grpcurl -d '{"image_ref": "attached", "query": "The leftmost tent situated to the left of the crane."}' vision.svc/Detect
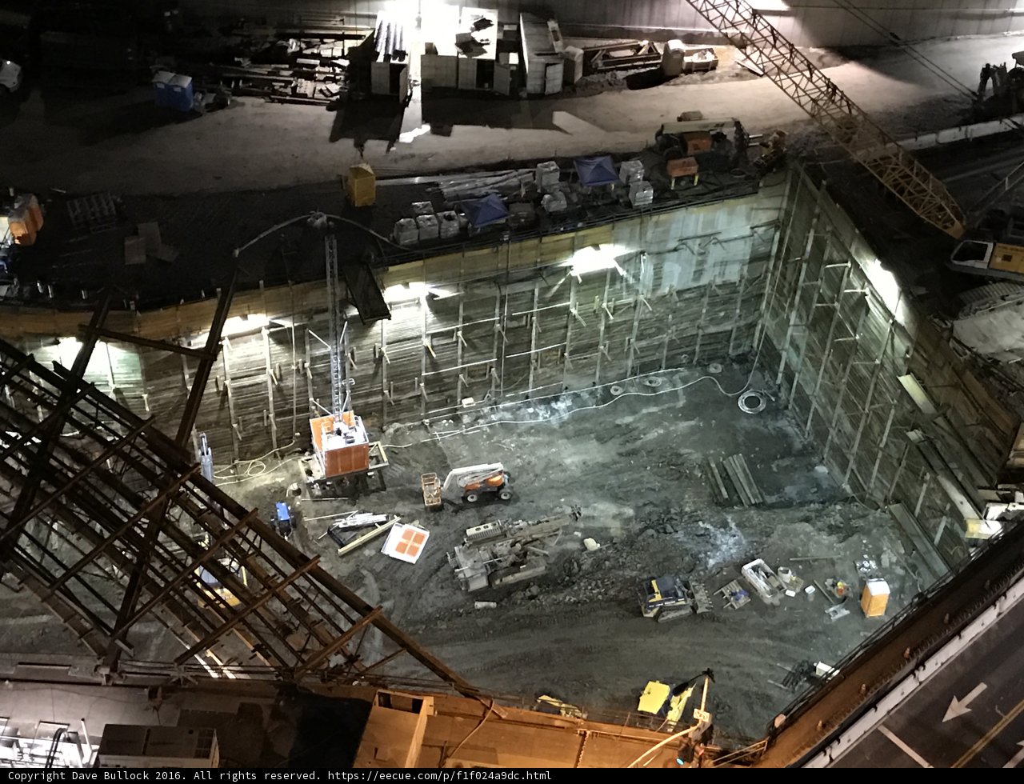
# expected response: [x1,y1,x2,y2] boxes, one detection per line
[462,198,510,254]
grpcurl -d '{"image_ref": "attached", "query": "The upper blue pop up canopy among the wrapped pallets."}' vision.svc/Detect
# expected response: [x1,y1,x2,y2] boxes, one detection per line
[572,156,619,208]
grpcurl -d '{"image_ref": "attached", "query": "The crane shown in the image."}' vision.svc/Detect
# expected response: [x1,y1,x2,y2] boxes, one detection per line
[683,0,1024,329]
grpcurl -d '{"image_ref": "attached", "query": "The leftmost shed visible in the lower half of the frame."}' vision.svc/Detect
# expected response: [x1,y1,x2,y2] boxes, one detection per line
[355,690,440,784]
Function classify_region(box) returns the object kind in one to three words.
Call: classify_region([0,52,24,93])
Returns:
truck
